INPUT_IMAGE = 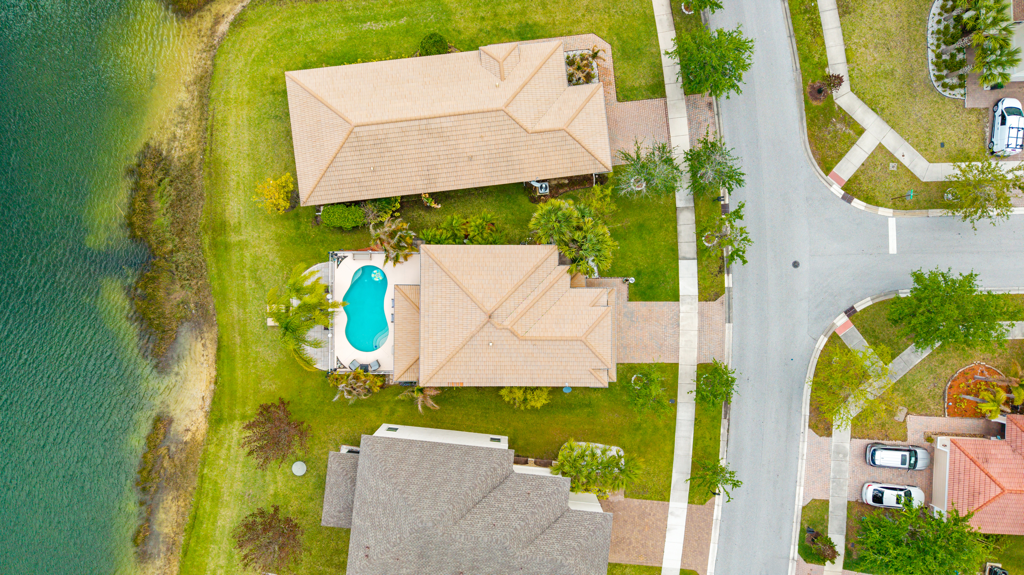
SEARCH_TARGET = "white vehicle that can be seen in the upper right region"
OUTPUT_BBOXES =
[992,97,1024,157]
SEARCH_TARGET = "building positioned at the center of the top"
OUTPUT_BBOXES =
[284,39,613,207]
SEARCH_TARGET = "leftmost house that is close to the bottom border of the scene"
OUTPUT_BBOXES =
[320,425,614,575]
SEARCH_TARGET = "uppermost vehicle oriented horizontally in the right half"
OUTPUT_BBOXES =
[862,440,930,474]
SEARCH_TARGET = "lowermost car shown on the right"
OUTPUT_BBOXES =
[859,479,924,512]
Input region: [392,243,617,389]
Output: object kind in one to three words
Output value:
building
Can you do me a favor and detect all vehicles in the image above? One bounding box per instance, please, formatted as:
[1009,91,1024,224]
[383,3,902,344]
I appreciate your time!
[992,97,1024,157]
[862,440,930,474]
[859,479,924,512]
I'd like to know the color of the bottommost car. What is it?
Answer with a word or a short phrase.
white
